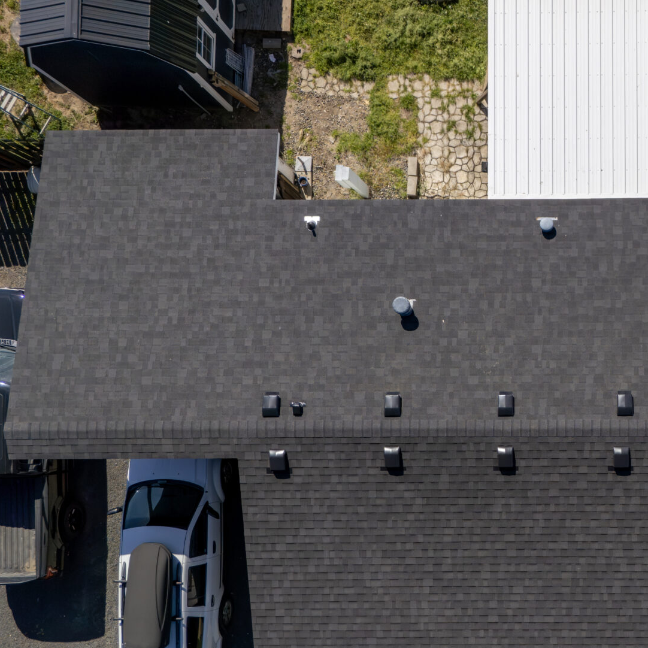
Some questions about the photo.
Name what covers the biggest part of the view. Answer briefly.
buildings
